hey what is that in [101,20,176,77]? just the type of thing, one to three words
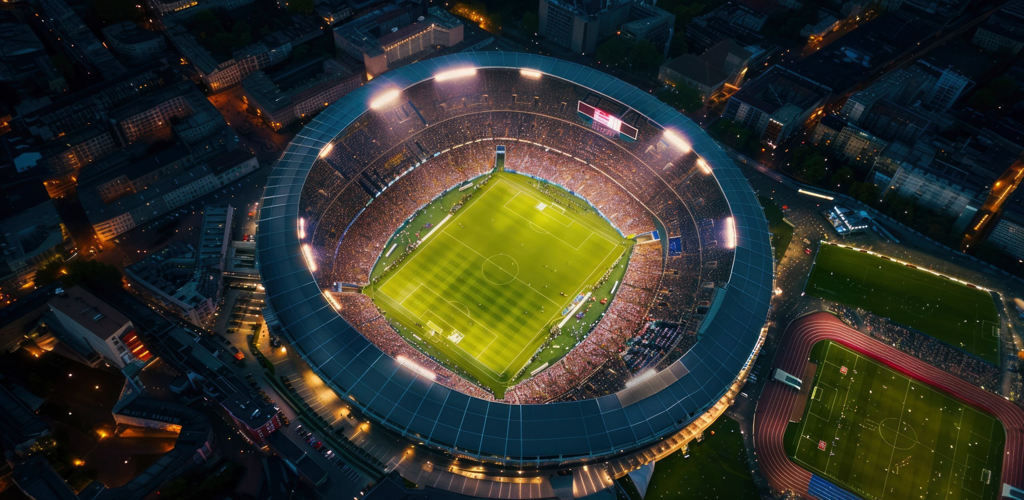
building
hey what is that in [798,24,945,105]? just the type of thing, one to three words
building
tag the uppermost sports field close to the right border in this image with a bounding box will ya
[805,244,1000,363]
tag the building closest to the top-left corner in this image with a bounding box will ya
[0,22,57,69]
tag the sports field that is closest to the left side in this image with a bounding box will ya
[370,174,632,384]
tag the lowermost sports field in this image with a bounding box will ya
[794,341,996,500]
